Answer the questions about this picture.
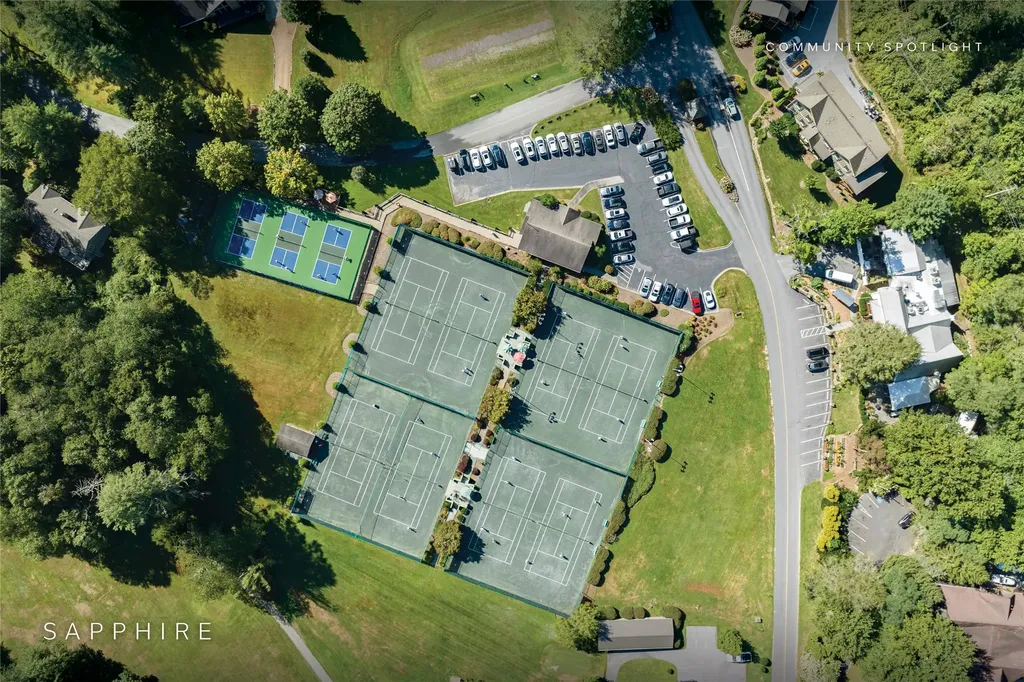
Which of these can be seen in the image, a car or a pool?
car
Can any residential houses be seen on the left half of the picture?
Yes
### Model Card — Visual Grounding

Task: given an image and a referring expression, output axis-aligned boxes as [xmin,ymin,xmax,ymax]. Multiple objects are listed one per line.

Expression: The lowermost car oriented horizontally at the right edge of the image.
[991,573,1013,585]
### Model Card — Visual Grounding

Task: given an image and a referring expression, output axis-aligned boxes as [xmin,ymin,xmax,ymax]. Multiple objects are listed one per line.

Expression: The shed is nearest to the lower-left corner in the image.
[276,424,317,457]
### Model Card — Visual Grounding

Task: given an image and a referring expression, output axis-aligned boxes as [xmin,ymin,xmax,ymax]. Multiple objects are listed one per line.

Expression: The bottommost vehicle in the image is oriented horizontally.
[724,650,749,662]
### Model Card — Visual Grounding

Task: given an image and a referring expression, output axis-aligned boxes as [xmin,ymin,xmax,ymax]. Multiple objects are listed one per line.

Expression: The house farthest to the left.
[18,184,110,257]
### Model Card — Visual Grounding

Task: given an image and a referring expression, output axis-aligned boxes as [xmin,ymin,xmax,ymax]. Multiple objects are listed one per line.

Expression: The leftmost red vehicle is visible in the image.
[690,291,702,315]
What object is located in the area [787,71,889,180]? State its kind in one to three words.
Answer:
house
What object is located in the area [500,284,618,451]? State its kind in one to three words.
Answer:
tennis court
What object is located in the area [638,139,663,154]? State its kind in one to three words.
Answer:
vehicle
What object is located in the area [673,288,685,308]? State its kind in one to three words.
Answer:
vehicle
